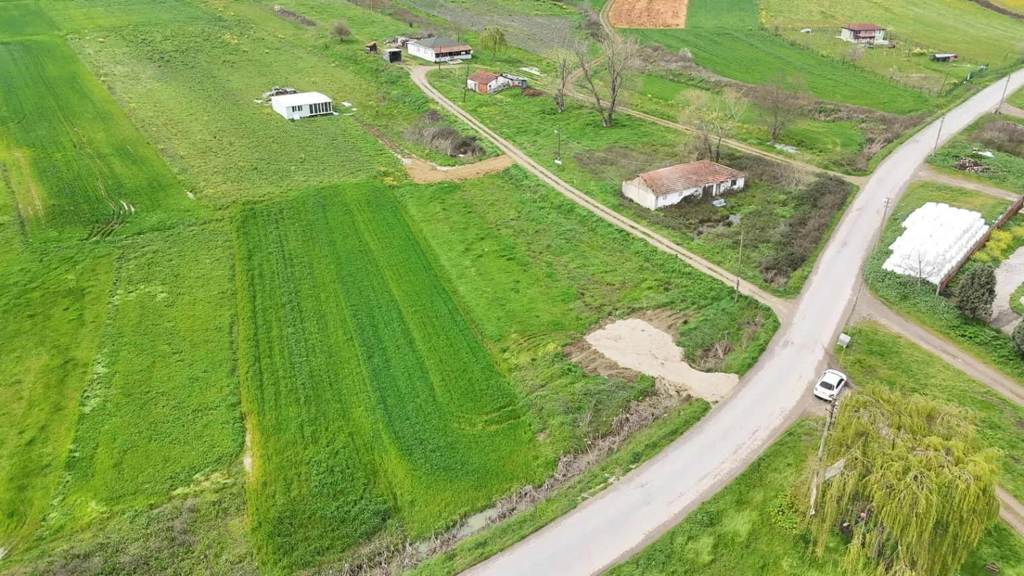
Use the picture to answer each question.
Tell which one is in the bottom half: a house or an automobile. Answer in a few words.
automobile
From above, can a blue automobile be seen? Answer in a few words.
No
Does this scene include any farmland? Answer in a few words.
Yes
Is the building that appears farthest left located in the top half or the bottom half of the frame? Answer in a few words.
top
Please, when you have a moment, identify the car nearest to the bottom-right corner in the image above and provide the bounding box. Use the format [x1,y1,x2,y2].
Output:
[811,366,850,400]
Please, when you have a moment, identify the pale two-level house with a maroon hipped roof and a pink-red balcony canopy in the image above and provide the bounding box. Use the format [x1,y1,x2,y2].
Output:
[841,19,890,44]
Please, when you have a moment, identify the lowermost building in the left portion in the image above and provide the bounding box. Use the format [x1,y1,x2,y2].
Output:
[272,89,335,119]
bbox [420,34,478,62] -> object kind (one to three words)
house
